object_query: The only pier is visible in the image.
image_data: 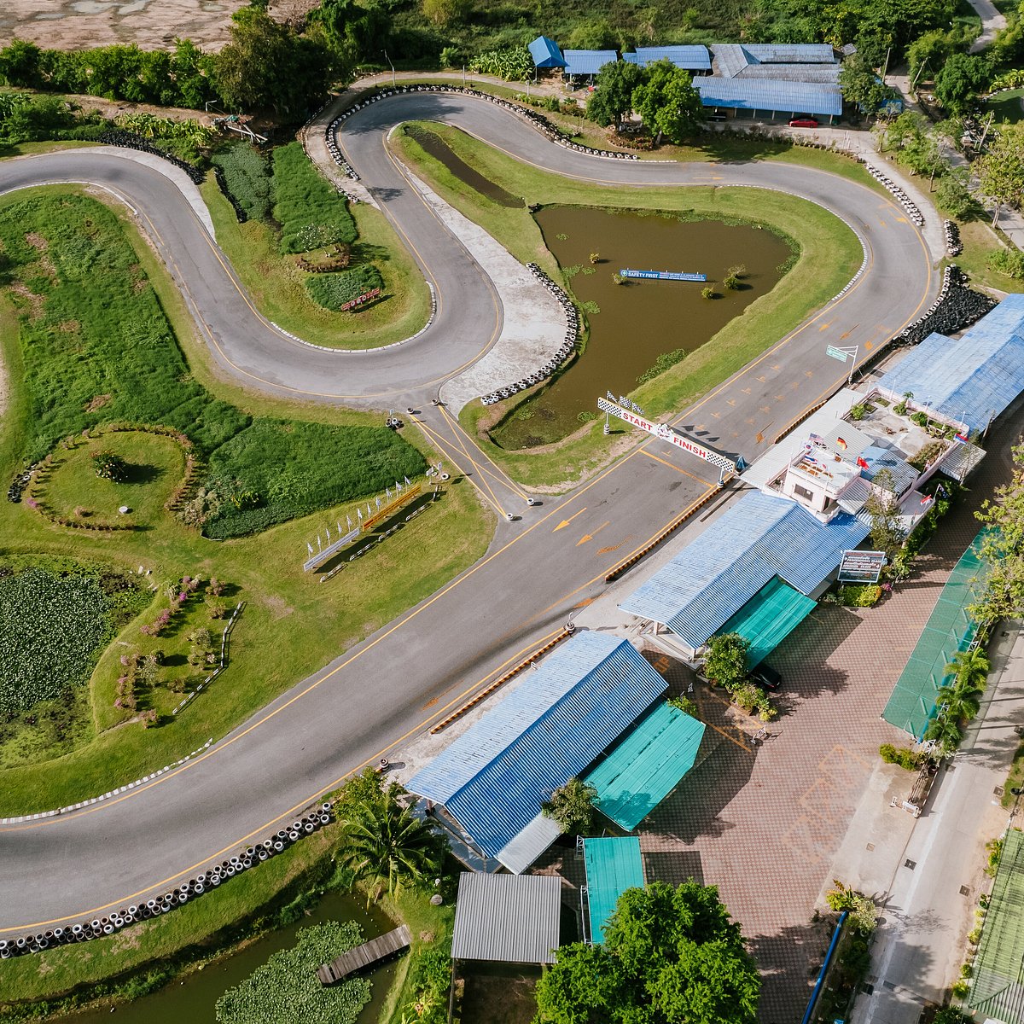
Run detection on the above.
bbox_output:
[317,926,411,984]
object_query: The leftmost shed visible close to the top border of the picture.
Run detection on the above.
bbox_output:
[526,40,567,88]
